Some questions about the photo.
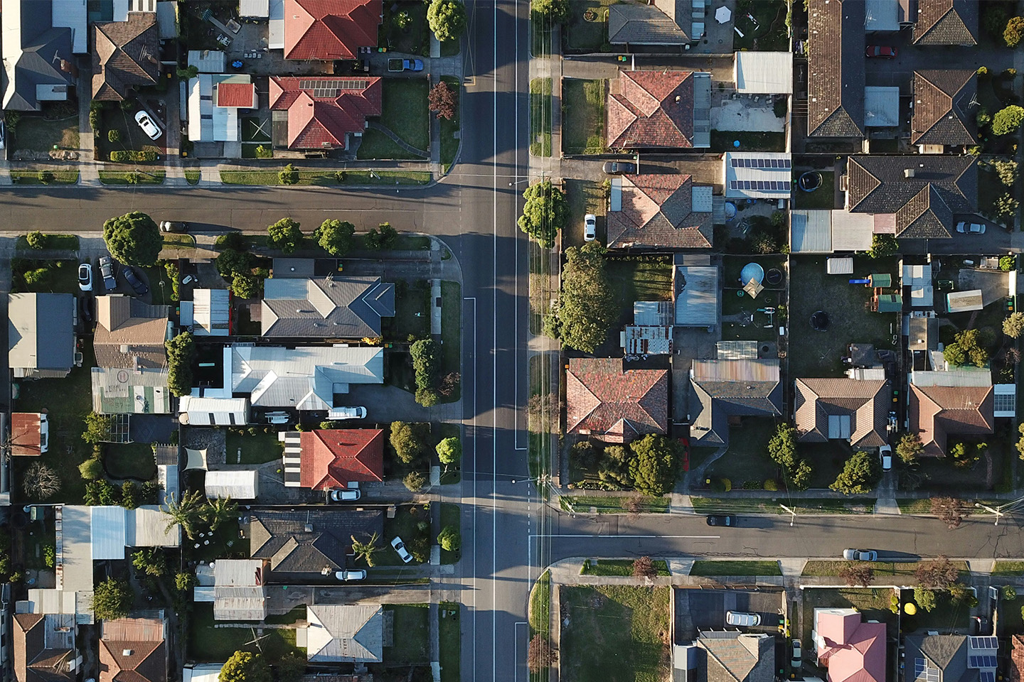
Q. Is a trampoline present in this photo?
Yes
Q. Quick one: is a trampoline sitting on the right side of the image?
Yes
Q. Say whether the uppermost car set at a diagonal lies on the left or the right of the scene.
left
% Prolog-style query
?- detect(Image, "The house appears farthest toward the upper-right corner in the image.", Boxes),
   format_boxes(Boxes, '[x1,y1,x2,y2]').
[899,0,979,48]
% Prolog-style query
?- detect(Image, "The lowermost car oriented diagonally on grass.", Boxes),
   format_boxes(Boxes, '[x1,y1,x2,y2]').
[390,537,413,565]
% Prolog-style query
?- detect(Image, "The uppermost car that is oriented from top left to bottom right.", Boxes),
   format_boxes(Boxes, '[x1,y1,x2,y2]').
[135,108,162,141]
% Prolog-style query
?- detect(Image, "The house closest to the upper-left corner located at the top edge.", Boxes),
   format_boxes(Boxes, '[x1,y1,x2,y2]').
[0,0,92,112]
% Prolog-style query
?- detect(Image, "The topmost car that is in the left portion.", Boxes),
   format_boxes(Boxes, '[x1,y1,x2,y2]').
[387,56,425,73]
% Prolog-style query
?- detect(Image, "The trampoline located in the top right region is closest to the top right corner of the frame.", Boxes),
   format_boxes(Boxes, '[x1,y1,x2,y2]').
[798,168,825,192]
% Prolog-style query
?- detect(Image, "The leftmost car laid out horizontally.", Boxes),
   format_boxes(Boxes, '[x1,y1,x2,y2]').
[159,219,191,234]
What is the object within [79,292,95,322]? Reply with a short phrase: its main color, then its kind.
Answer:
black car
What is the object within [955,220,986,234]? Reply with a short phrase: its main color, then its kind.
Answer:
blue car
